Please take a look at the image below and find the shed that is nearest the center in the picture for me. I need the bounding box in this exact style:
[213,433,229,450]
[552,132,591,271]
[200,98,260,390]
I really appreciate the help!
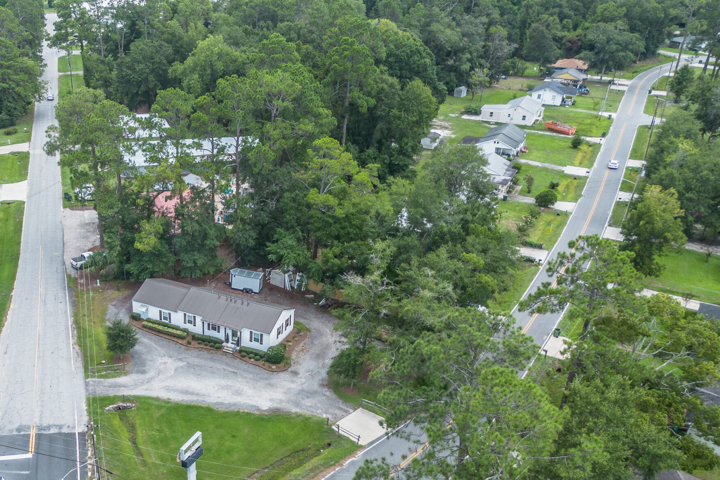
[269,265,294,288]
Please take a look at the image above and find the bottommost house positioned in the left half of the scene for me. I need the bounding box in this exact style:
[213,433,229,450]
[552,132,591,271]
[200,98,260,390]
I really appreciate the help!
[131,277,292,350]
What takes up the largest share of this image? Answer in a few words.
trees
